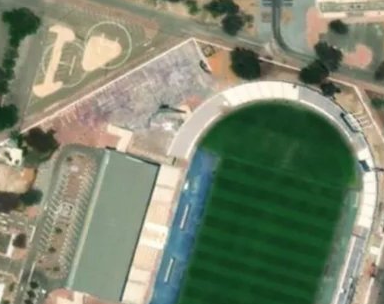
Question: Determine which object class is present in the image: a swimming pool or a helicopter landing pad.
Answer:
helicopter landing pad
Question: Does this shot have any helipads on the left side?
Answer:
Yes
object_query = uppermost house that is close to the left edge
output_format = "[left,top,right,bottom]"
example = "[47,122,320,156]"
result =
[0,147,22,167]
